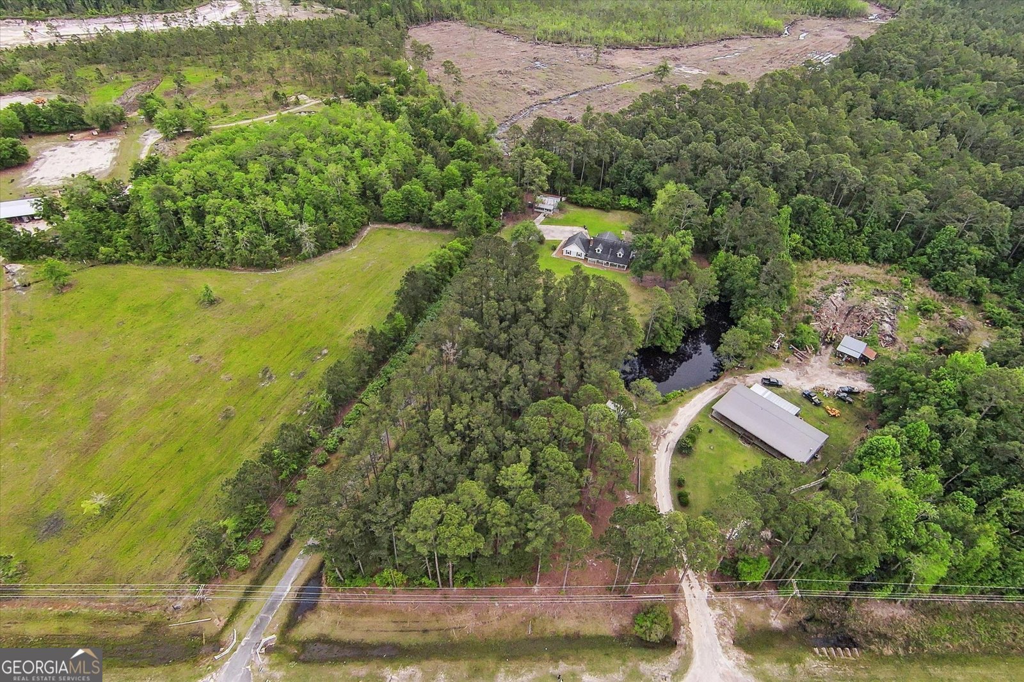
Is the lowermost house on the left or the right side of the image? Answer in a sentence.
You can find the lowermost house on the right side of the picture.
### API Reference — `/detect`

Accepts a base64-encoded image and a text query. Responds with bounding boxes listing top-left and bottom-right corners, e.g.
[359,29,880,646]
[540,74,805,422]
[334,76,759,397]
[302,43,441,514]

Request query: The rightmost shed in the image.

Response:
[833,334,878,367]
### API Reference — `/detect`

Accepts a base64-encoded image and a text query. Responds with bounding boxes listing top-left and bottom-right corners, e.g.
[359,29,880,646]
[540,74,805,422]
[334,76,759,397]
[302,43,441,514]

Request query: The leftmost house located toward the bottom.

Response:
[710,384,825,465]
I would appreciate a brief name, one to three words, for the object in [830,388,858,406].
vehicle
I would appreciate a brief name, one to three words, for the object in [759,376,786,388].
vehicle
